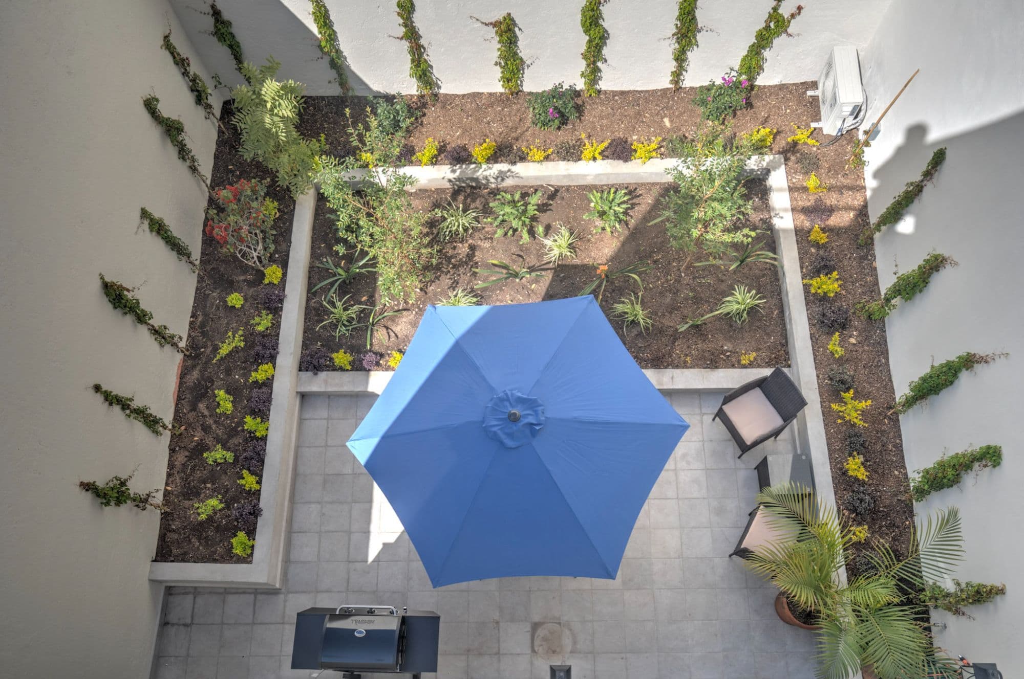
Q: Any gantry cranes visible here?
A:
No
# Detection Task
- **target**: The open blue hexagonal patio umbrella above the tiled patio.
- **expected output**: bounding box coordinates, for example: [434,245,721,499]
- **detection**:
[347,295,692,590]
